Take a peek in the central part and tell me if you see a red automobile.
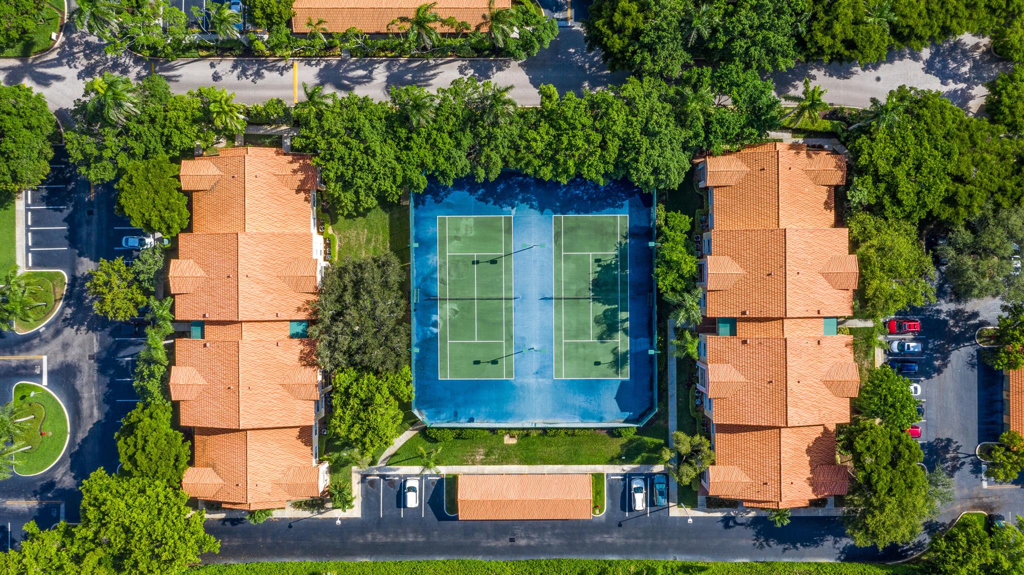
No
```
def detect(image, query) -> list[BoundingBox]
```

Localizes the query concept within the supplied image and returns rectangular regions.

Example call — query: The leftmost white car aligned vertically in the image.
[404,477,419,508]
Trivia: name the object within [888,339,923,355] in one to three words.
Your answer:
car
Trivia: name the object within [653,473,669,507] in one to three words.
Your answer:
car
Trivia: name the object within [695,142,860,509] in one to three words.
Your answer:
building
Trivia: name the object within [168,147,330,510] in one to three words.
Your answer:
building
